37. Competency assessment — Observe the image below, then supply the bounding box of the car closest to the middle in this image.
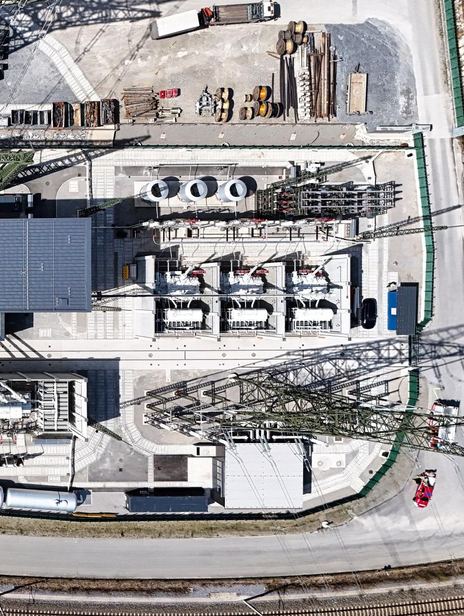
[358,297,377,329]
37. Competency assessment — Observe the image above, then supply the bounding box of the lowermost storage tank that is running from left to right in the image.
[6,484,78,513]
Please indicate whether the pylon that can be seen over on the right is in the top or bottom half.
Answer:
bottom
